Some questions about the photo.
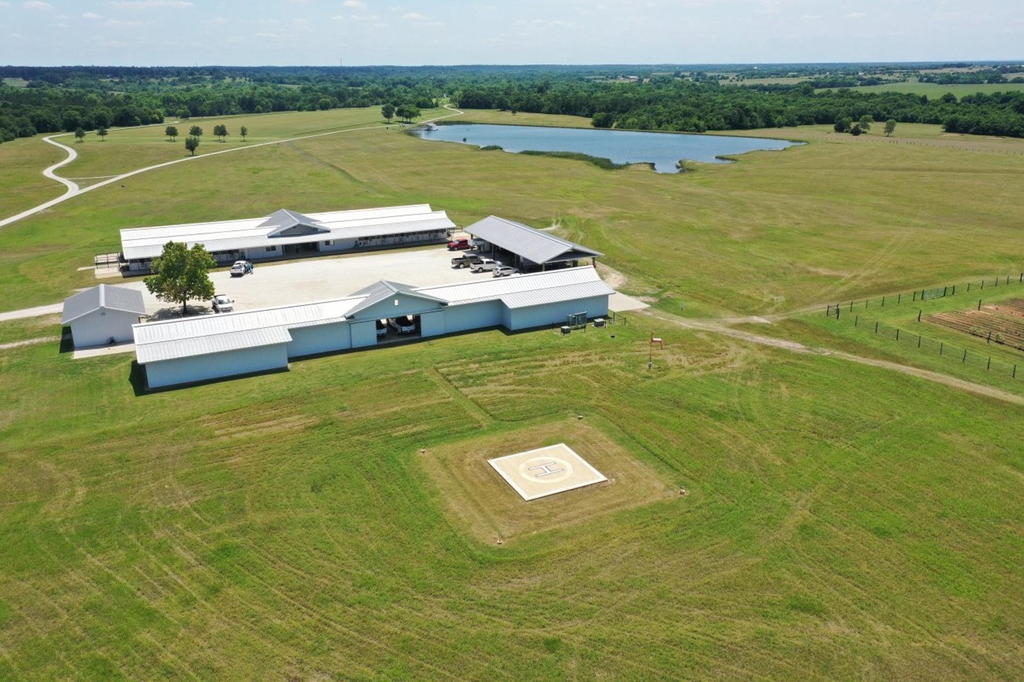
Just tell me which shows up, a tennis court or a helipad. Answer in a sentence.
Of the two, only a helipad appears.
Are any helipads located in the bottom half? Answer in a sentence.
Yes, there is a helipad in the bottom half.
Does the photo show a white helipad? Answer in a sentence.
Yes, a white helipad can be made out from above.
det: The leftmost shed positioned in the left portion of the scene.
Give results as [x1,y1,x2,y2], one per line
[60,283,145,347]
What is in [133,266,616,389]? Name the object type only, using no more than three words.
barn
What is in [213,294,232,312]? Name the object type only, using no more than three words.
vehicle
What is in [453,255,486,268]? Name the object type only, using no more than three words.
vehicle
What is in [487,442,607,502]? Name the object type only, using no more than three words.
helipad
